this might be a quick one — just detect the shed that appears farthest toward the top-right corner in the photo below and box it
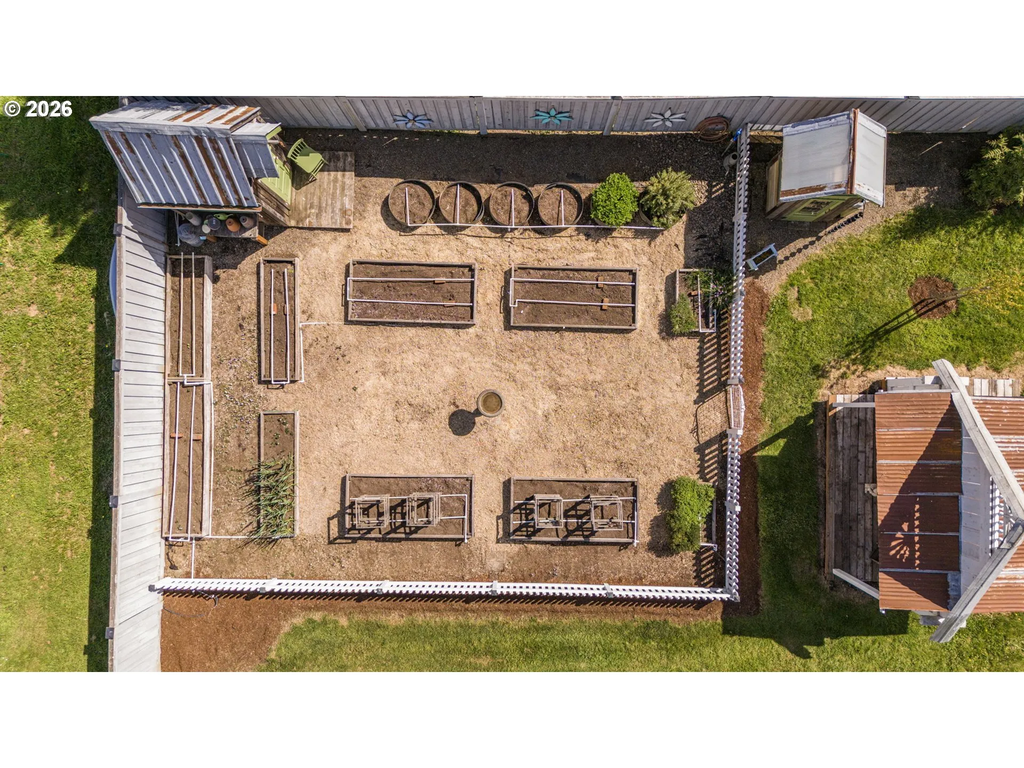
[766,107,887,219]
